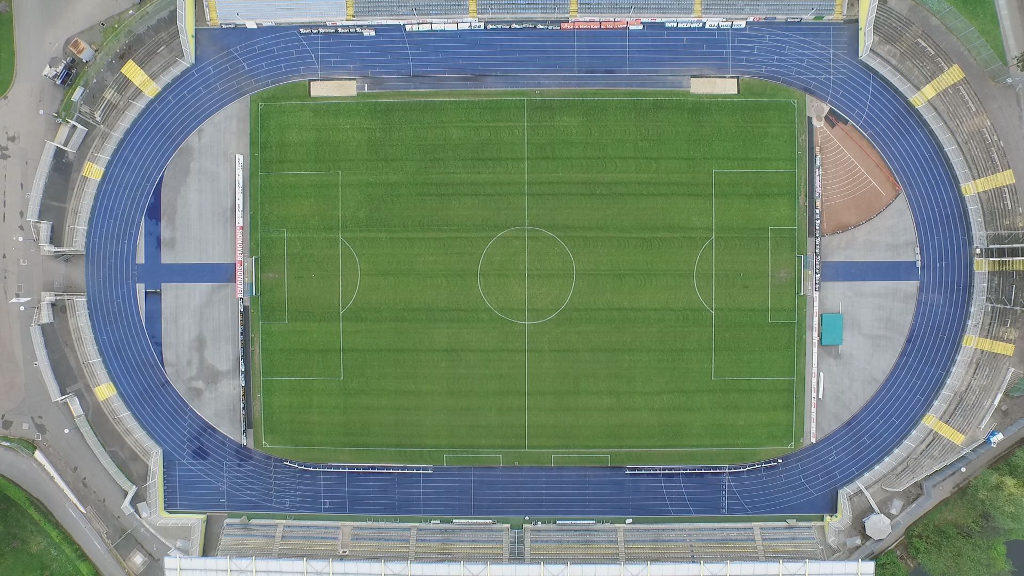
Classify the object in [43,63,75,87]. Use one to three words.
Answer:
truck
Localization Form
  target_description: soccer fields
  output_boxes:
[250,74,807,467]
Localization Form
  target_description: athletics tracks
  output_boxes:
[85,20,973,516]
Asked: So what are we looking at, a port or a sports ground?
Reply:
sports ground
